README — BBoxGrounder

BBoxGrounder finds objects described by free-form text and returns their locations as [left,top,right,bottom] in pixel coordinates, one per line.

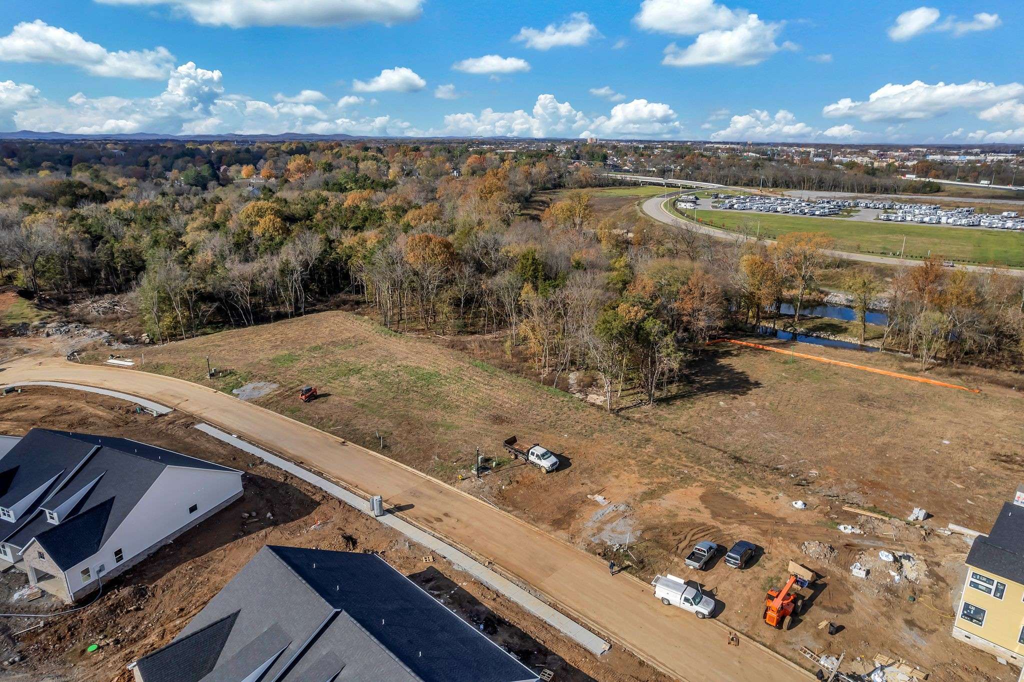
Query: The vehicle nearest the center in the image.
[504,438,562,476]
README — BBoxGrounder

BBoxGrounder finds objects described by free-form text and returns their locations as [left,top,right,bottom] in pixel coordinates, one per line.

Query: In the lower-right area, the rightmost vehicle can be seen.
[763,556,823,626]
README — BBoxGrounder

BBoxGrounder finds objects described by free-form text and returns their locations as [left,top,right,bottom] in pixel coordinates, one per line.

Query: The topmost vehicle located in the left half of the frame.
[294,384,319,403]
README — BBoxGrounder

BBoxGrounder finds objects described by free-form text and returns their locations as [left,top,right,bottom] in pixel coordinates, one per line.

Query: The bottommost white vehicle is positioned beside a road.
[643,564,719,616]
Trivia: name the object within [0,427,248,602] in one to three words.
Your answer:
house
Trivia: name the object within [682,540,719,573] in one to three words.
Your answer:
truck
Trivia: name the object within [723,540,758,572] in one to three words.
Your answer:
car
